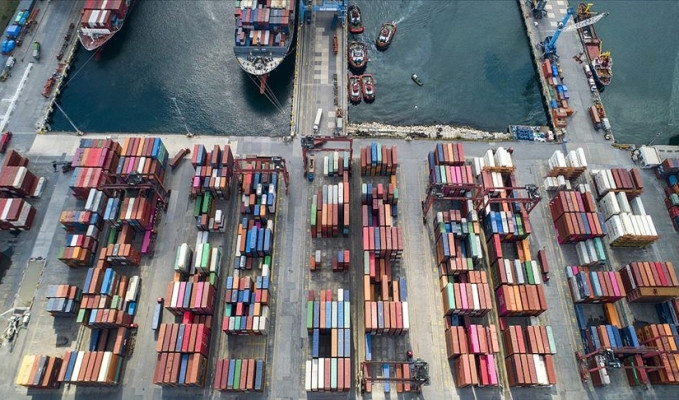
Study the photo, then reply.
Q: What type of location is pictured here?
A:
port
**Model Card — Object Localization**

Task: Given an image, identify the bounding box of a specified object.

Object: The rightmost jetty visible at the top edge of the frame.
[517,0,614,143]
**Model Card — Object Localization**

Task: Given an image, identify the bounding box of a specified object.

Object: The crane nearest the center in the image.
[300,135,353,172]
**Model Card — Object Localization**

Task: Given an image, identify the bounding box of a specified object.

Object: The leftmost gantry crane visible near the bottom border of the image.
[358,356,432,393]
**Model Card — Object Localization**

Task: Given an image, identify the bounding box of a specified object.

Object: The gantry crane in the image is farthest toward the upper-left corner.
[95,170,168,207]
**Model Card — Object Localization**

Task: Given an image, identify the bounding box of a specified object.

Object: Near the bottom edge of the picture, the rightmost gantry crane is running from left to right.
[577,344,671,381]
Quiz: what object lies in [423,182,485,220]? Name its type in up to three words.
container crane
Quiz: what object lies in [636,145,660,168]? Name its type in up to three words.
shed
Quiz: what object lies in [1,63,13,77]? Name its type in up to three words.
vehicle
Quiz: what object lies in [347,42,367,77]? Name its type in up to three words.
boat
